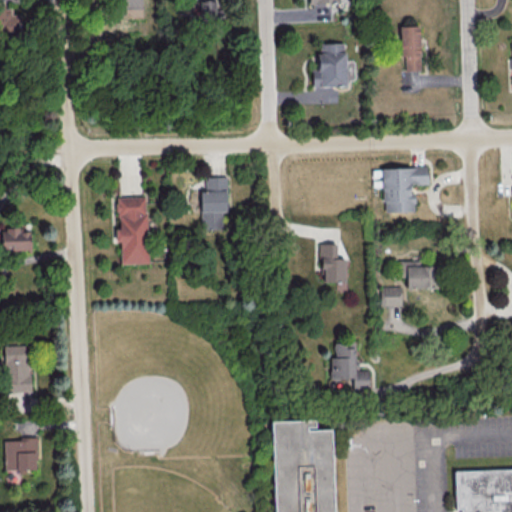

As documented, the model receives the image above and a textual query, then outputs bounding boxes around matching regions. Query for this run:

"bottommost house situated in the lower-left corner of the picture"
[6,438,38,474]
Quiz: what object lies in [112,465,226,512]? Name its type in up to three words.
baseball field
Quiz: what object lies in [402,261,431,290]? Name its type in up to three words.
house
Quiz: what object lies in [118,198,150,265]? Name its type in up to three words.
house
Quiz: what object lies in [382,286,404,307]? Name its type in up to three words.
building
